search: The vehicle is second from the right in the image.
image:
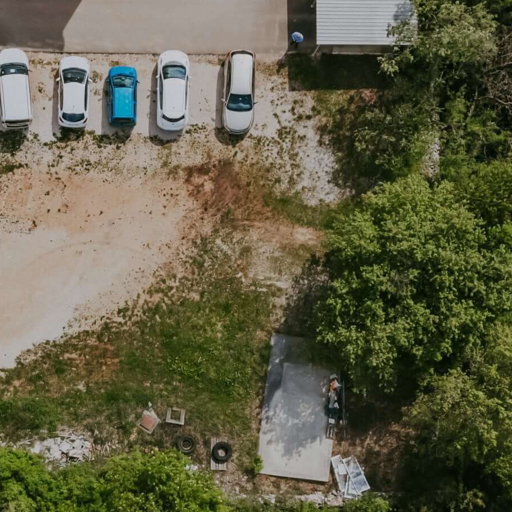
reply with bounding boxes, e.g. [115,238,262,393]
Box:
[154,49,194,132]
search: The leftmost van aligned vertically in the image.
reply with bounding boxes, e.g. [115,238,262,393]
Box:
[0,49,33,130]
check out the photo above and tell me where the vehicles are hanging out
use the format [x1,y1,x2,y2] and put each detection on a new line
[54,55,92,130]
[221,49,261,133]
[154,49,194,132]
[105,65,140,127]
[0,49,33,130]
